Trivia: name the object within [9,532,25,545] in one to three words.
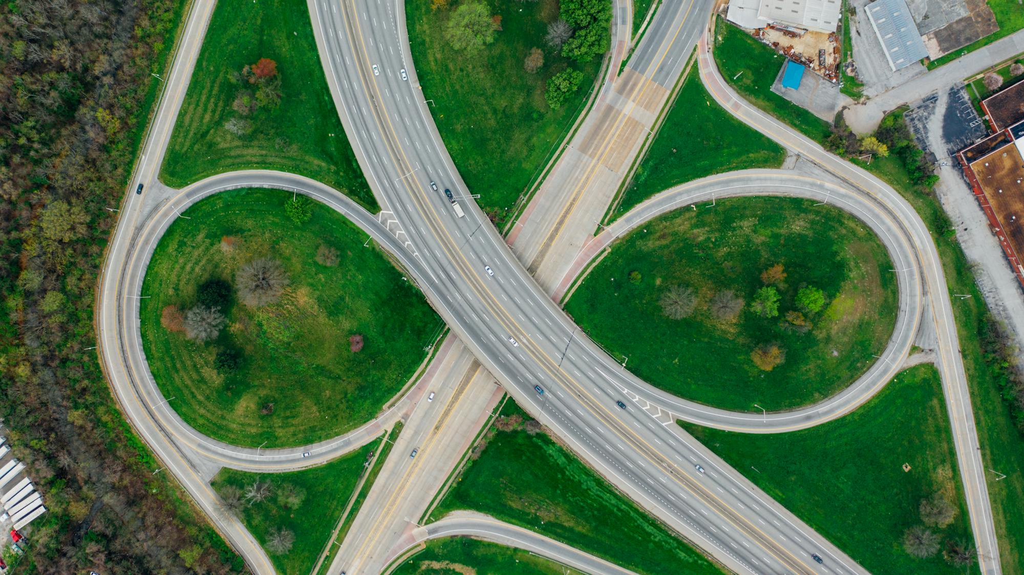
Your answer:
vehicle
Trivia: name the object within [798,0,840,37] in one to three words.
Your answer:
building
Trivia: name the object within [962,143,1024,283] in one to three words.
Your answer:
building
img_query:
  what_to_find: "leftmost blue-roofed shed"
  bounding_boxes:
[779,60,805,92]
